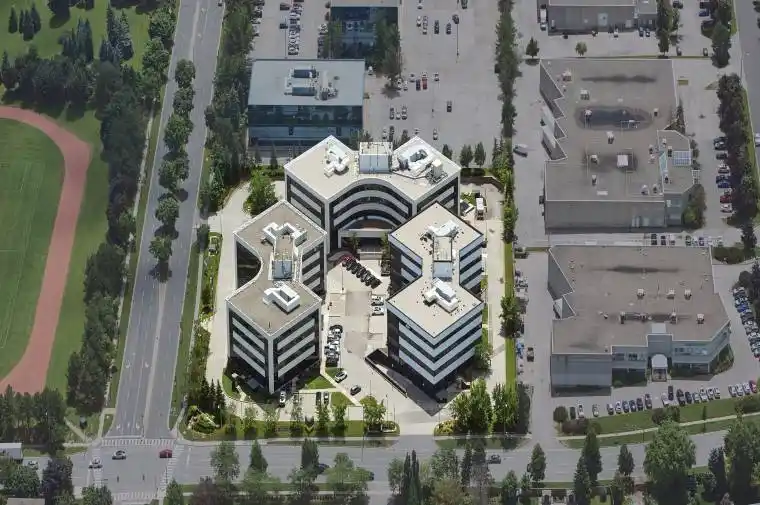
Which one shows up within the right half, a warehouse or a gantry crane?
warehouse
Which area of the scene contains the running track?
left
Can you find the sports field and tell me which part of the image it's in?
left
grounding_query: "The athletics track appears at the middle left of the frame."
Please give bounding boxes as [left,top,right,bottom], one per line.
[0,105,91,397]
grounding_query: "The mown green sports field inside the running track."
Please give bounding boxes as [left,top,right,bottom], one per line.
[0,119,65,379]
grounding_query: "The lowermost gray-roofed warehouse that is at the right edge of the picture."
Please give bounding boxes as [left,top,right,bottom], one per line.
[547,245,730,385]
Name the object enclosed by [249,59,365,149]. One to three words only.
building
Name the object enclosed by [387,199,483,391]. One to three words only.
building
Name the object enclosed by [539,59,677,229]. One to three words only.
warehouse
